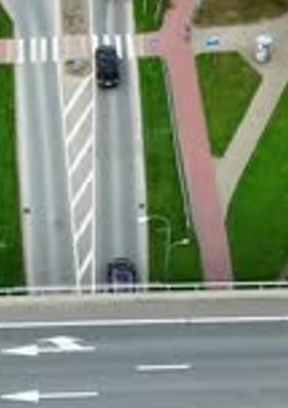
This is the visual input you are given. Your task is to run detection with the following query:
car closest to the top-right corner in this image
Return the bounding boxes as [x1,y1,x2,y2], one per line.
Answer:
[253,37,275,64]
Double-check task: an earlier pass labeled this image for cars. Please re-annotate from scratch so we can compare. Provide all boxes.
[95,46,121,90]
[253,37,275,64]
[106,263,137,292]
